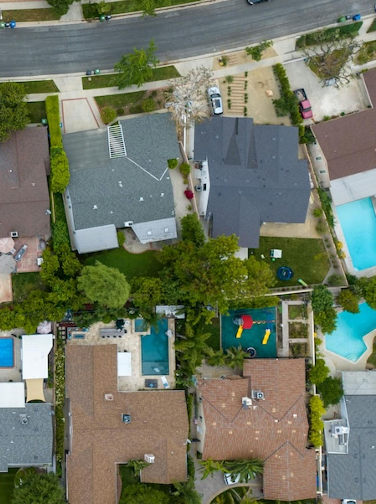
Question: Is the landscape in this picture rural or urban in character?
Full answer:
This place is urban.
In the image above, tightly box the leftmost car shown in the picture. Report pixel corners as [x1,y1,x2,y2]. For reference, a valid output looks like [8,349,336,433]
[207,86,223,115]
